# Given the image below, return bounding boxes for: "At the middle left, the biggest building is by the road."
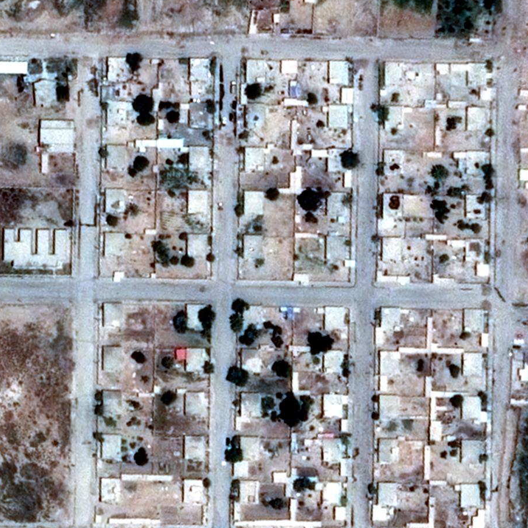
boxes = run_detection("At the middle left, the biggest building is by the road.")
[4,229,69,268]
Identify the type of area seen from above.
residential area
